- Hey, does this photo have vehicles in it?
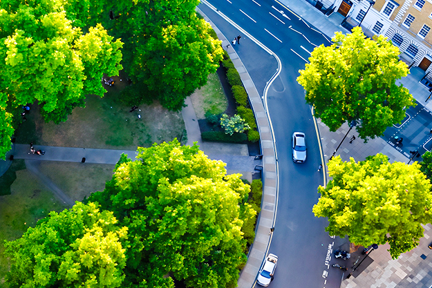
Yes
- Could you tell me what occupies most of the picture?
trees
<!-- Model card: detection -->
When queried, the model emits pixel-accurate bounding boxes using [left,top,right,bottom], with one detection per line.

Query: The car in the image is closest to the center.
[291,133,307,162]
